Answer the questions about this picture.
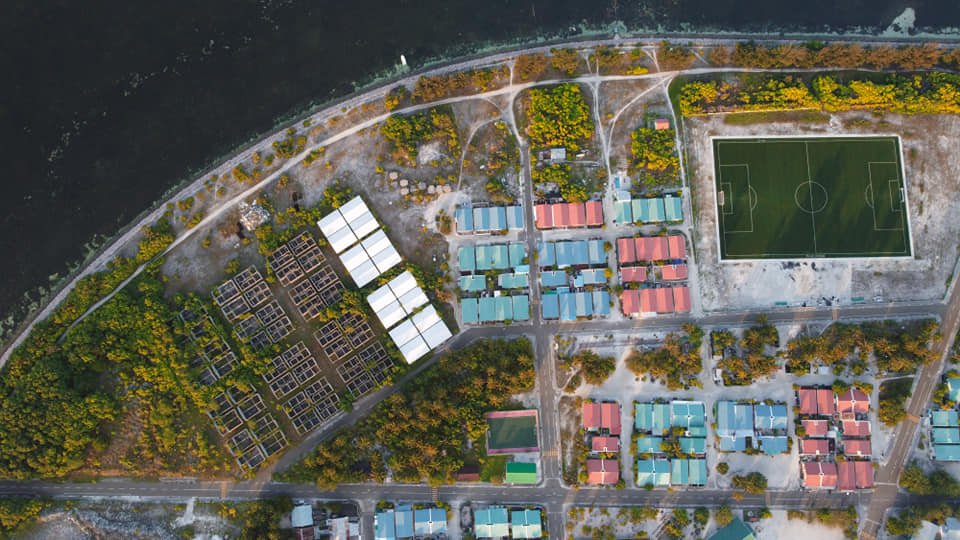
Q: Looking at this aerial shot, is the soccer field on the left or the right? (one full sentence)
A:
You can find the soccer field on the right side of the picture.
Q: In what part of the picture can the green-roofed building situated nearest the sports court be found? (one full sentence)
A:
You can find the green-roofed building situated nearest the sports court in the bottom area of the picture.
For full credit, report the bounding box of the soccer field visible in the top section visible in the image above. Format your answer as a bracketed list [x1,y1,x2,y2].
[710,134,915,262]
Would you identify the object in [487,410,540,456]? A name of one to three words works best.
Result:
sports court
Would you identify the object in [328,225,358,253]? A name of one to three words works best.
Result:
house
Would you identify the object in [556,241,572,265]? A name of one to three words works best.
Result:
house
